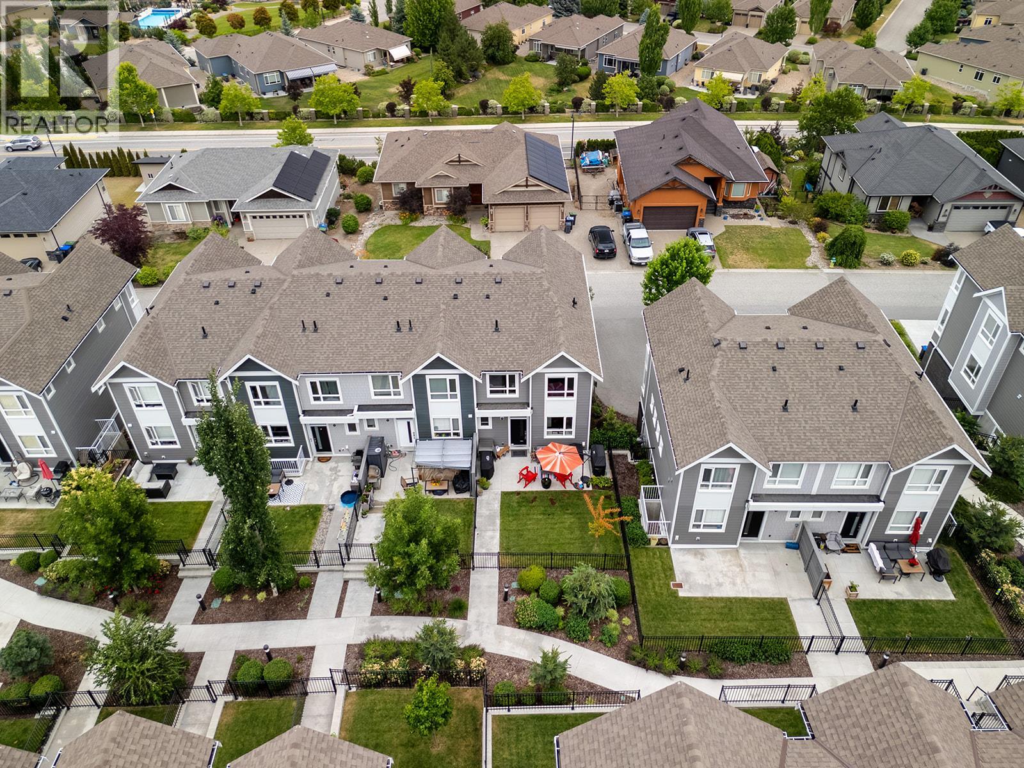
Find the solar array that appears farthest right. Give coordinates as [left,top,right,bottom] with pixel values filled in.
[527,126,565,184]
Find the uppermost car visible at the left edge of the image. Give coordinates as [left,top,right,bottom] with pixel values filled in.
[0,130,45,151]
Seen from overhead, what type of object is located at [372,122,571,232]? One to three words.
house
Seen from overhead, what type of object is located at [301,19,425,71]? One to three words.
house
